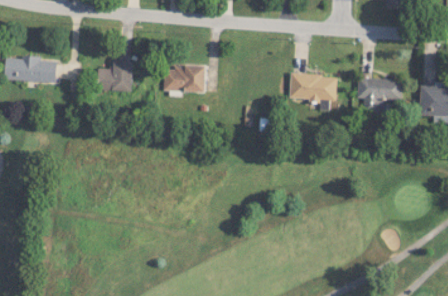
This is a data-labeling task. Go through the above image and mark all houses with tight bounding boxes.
[421,82,448,123]
[358,70,404,106]
[98,60,138,92]
[290,66,338,112]
[5,56,60,88]
[164,63,208,97]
